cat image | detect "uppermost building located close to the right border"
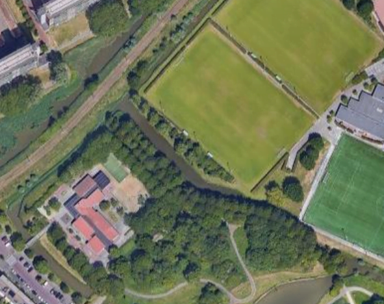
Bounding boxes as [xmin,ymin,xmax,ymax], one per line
[335,84,384,139]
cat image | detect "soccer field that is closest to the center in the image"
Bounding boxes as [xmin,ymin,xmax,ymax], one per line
[147,31,313,190]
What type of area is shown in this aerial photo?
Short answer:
sports ground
